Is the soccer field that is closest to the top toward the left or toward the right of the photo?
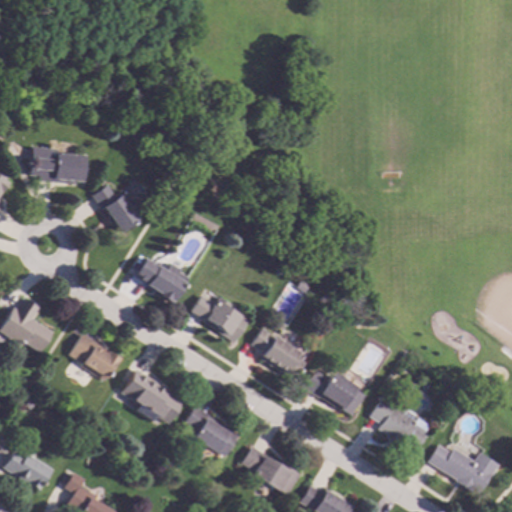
right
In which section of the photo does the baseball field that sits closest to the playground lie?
right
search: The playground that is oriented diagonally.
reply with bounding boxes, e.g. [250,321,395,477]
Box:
[431,310,480,364]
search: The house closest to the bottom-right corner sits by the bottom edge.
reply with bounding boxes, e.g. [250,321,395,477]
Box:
[428,442,502,491]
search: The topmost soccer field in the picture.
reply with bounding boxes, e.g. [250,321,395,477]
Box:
[330,0,512,258]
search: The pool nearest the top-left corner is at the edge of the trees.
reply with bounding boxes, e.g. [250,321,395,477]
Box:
[156,230,207,268]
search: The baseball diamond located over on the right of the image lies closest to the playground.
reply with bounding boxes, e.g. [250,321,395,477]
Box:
[476,272,512,349]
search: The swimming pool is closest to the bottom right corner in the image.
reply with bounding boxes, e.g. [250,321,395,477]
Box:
[452,413,482,458]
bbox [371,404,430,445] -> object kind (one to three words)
house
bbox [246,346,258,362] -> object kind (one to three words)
vehicle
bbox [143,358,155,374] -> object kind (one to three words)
vehicle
